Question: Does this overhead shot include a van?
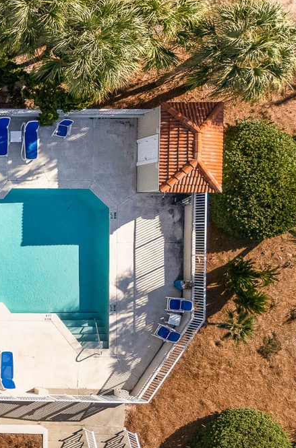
No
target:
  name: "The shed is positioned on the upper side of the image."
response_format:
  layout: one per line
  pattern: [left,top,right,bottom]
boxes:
[135,100,225,194]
